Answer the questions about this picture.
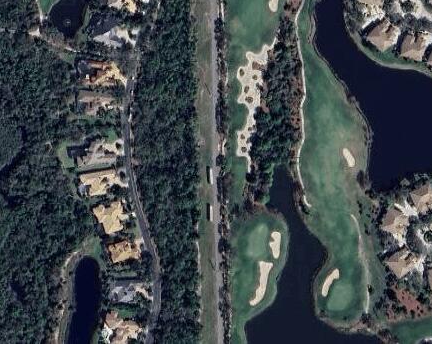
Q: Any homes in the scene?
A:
Yes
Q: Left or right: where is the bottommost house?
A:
left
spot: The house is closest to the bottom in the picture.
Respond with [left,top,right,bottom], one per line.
[103,312,141,341]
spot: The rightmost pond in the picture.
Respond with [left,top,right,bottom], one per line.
[238,165,390,344]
